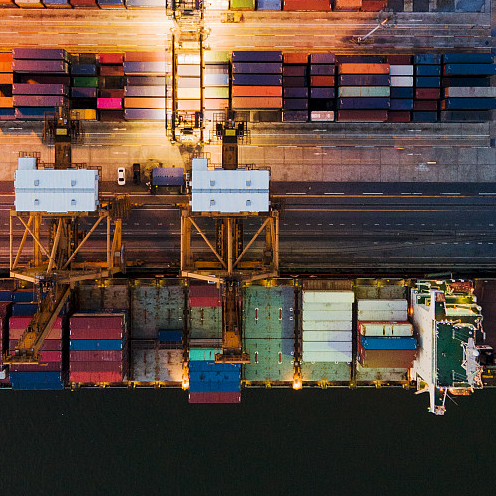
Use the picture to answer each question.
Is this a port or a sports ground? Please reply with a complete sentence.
This looks like a port.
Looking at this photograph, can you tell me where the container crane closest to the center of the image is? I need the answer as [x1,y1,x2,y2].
[162,105,293,360]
